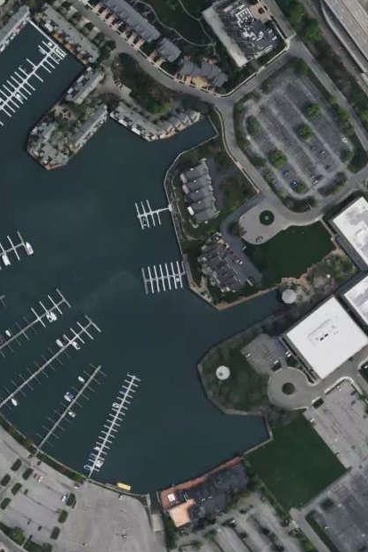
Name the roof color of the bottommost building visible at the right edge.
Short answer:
white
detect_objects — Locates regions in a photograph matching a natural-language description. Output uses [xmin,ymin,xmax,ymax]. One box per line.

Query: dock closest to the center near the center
[142,261,185,294]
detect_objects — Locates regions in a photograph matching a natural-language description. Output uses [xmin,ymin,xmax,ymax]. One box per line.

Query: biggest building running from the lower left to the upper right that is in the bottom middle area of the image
[182,465,247,517]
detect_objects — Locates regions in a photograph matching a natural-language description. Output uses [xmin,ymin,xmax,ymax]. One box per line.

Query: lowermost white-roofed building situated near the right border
[283,296,368,380]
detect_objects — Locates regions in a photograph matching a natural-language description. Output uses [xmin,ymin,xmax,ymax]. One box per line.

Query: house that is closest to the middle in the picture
[199,234,246,292]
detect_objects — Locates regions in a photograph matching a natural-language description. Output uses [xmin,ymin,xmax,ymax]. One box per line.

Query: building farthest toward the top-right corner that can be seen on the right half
[198,0,280,67]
